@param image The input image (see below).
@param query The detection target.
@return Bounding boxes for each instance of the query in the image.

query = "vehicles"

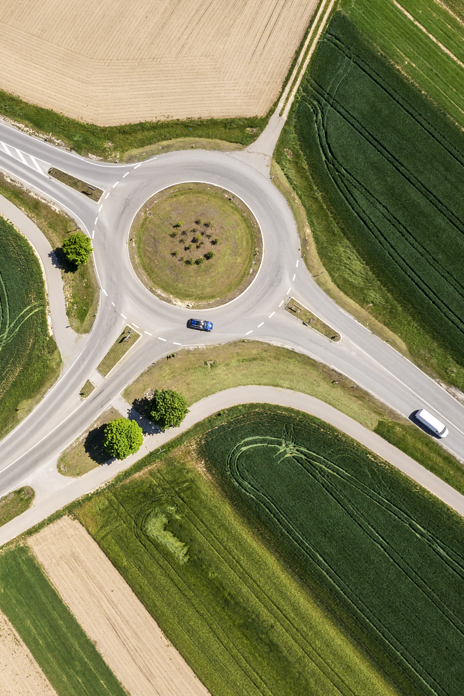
[189,319,213,331]
[414,409,450,436]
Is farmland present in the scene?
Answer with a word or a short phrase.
Yes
